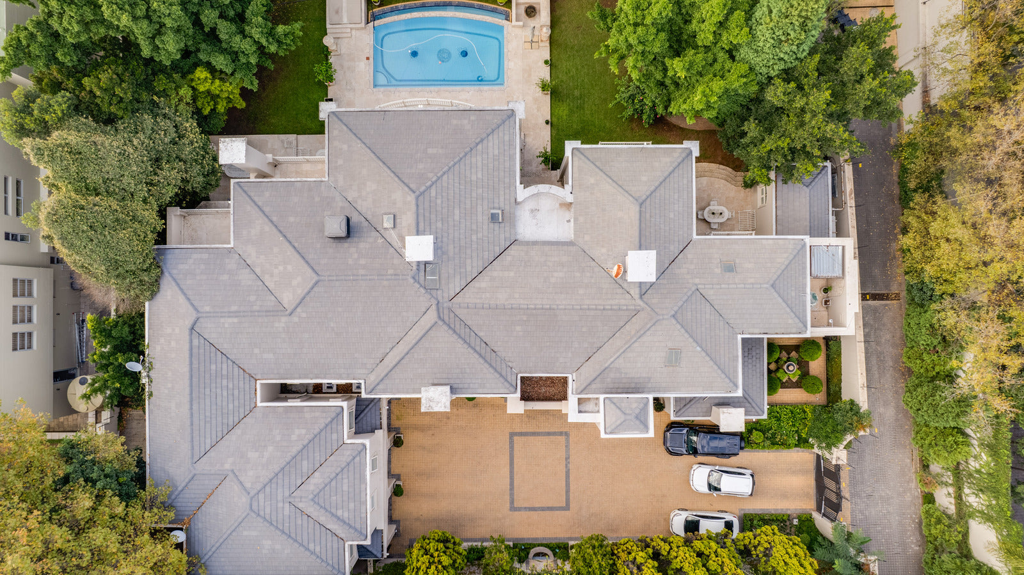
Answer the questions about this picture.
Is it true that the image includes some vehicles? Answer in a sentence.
Yes, looking at the shot, I can spot a vehicle.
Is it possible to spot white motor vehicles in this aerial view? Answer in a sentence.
Yes, the photo shows a white motor vehicle.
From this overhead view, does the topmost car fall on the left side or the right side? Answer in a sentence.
The topmost car is on the right side of the image.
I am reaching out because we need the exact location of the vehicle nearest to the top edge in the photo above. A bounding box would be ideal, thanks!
[668,425,745,460]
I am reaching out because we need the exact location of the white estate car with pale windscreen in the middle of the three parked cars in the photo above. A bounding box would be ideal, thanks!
[689,464,755,498]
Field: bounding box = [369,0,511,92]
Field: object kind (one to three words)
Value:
swimming pool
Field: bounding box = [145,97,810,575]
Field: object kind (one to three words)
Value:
house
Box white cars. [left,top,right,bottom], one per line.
[670,507,738,537]
[689,464,755,498]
